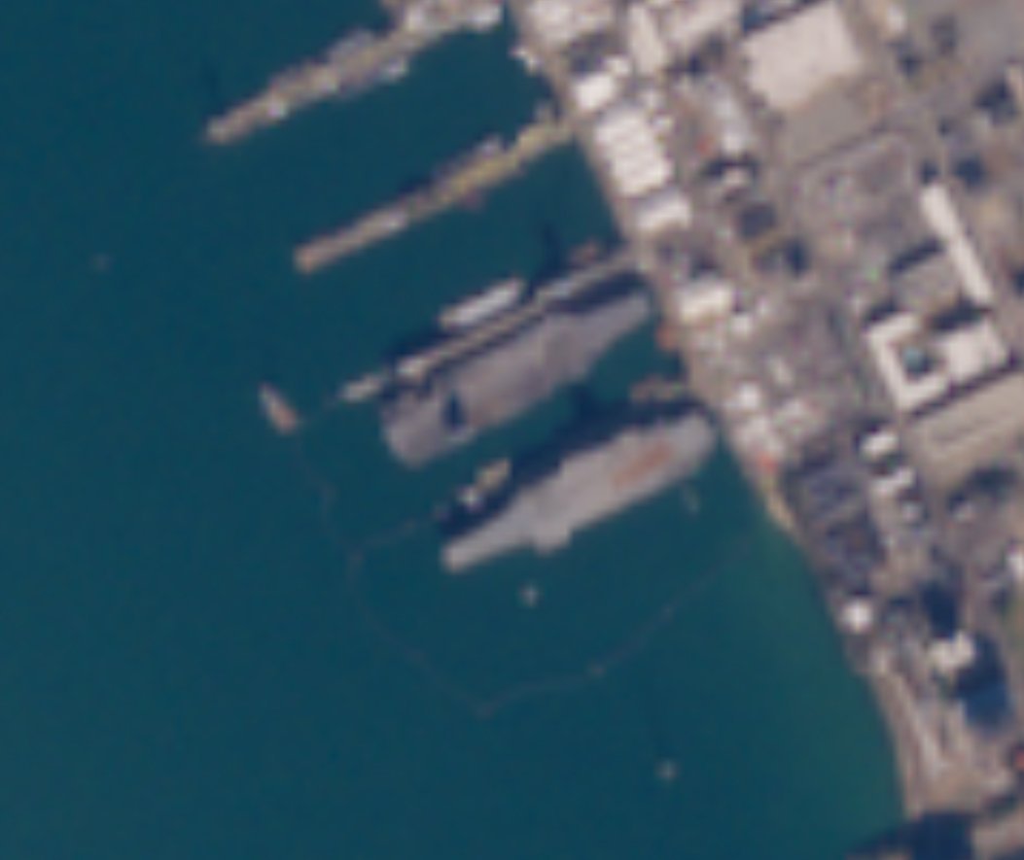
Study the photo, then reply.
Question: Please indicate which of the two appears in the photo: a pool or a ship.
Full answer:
Of the two, only a ship appears.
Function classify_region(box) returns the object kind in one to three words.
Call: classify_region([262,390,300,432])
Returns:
ship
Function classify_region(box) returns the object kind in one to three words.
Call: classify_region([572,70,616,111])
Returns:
building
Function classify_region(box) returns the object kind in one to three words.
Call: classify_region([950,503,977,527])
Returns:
house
